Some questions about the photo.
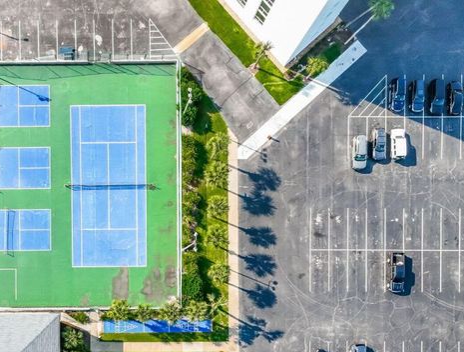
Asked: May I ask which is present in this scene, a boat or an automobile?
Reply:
automobile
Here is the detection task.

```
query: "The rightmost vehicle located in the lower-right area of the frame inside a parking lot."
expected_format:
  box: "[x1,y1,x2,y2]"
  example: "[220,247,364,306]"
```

[388,253,406,294]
